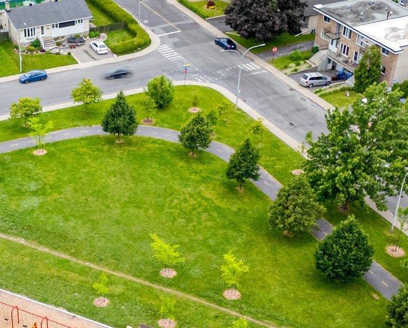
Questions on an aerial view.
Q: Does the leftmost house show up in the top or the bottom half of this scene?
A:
top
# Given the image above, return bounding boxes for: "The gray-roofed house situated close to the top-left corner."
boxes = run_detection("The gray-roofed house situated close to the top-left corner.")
[0,0,93,48]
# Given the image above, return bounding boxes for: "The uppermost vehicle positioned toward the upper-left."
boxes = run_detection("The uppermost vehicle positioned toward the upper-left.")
[89,40,109,55]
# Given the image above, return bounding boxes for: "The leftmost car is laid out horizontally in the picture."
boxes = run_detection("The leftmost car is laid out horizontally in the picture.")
[18,68,49,83]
